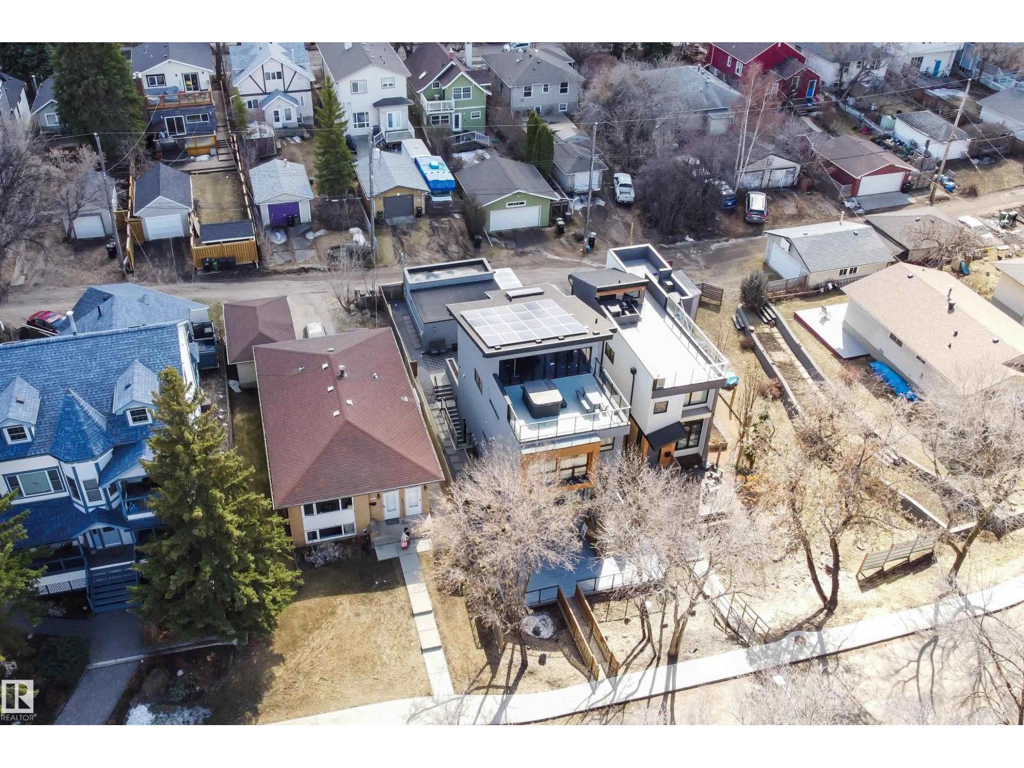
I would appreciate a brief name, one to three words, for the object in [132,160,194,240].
building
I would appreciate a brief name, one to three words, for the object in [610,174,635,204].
truck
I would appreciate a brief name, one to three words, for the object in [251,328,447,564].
house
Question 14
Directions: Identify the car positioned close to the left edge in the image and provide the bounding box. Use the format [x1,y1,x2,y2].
[15,297,50,335]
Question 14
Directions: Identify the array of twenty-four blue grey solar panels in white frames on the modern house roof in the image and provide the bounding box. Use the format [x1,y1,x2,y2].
[460,297,589,345]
